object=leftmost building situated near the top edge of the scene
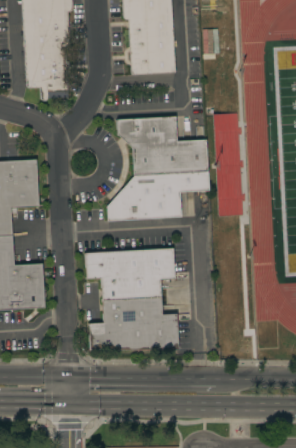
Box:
[22,0,74,102]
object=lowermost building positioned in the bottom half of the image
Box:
[90,297,180,348]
